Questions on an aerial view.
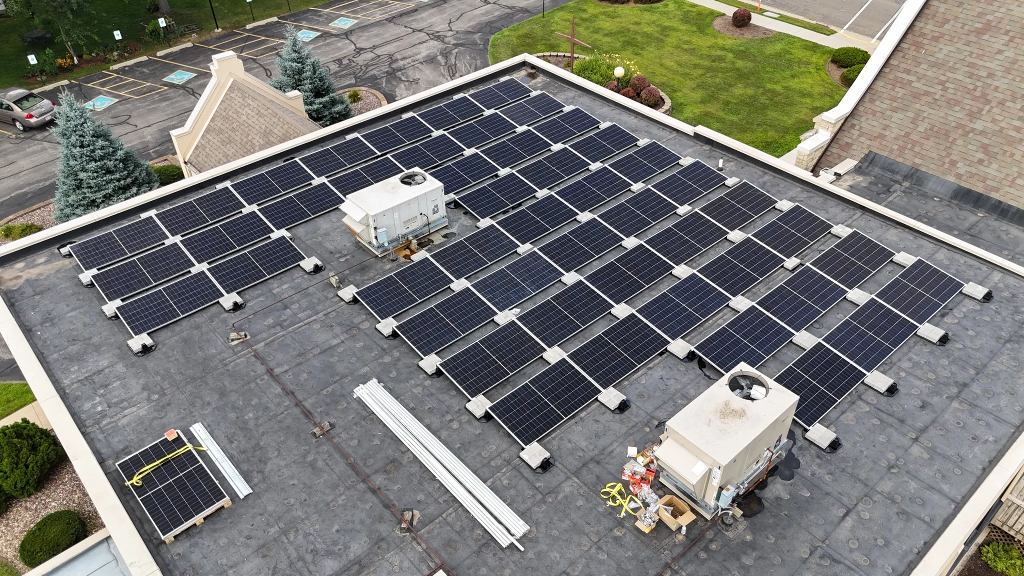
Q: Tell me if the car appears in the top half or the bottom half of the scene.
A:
top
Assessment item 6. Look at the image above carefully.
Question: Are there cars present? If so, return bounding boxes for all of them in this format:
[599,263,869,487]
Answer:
[0,86,64,133]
